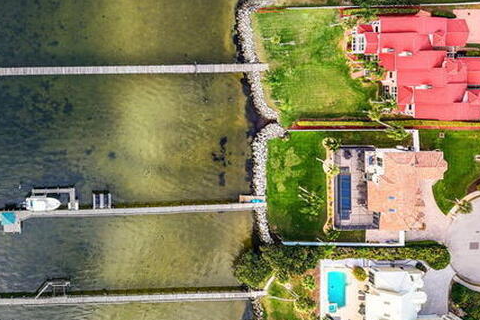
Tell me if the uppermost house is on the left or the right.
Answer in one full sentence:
The uppermost house appears in the right half of the scene.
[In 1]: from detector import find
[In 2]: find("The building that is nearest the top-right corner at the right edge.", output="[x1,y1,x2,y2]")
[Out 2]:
[345,17,480,120]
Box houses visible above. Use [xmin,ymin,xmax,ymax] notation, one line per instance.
[360,149,450,231]
[358,267,463,320]
[345,17,480,120]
